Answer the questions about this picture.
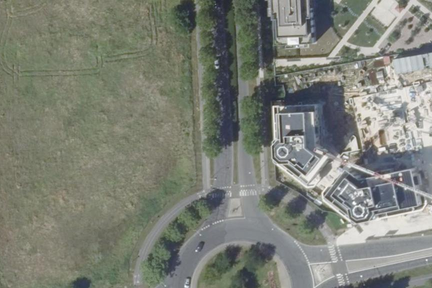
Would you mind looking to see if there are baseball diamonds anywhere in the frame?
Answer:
No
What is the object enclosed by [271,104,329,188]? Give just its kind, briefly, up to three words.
building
